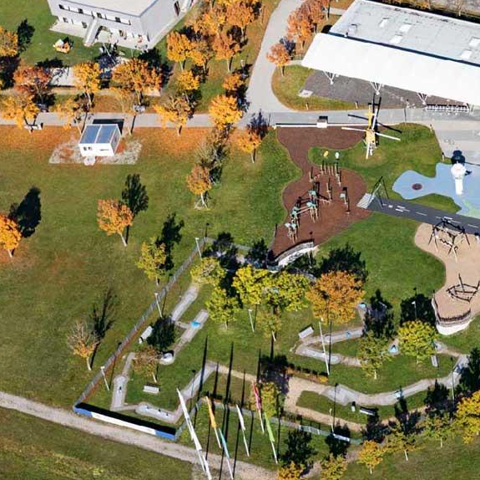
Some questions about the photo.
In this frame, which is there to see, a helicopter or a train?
helicopter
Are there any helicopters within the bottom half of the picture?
No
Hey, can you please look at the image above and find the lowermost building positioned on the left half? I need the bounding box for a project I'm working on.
[79,125,121,157]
